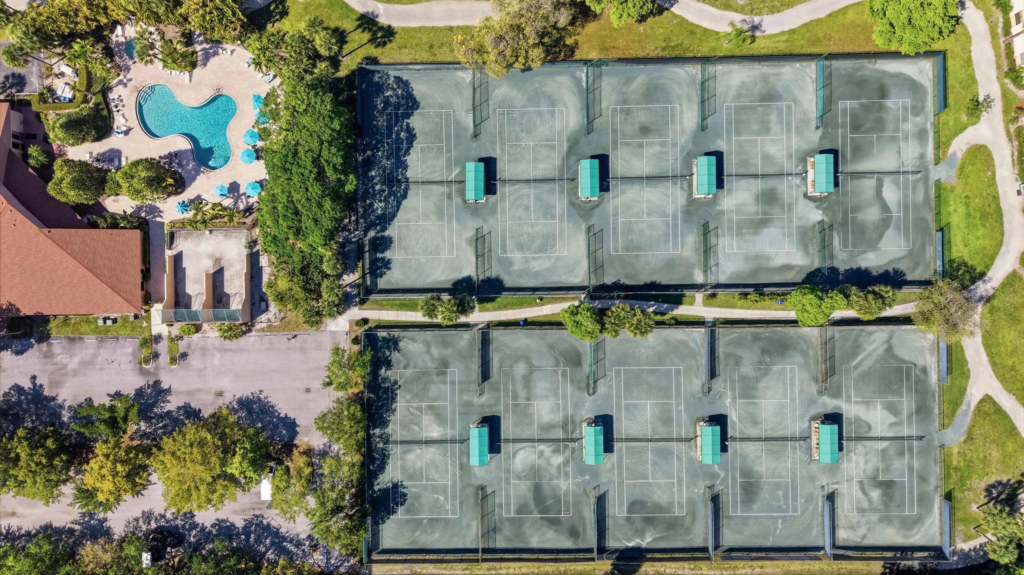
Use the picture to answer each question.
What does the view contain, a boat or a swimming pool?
swimming pool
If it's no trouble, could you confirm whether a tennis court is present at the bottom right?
Yes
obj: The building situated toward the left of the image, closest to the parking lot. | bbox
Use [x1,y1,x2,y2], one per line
[0,102,146,315]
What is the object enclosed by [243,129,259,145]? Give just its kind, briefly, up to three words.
umbrella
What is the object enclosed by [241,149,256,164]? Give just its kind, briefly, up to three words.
umbrella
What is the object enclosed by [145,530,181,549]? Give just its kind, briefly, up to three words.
vehicle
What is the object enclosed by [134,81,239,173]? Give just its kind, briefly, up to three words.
swimming pool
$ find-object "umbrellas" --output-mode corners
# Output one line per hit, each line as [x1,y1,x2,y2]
[215,183,229,199]
[176,200,191,213]
[243,129,259,145]
[241,149,256,164]
[245,181,259,196]
[250,94,264,110]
